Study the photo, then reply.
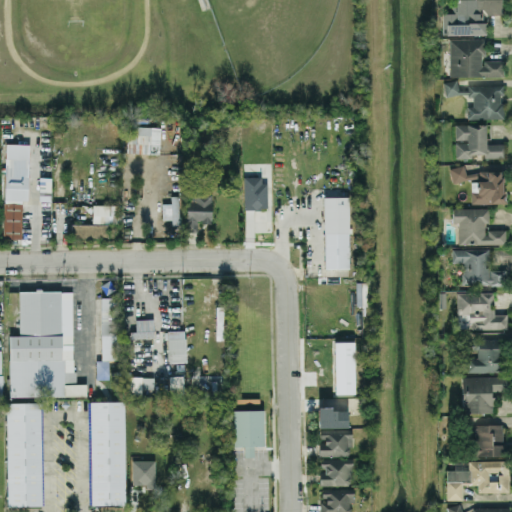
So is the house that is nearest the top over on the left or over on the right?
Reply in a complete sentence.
The house that is nearest the top sits on the right side.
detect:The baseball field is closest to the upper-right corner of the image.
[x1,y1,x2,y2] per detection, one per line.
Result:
[209,0,338,95]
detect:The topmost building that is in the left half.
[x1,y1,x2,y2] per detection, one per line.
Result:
[128,128,161,155]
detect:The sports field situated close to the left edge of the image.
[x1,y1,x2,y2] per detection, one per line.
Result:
[11,0,144,81]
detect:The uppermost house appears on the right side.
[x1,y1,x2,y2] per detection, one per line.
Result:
[444,0,504,36]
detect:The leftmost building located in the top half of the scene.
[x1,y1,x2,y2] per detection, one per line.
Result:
[4,144,30,240]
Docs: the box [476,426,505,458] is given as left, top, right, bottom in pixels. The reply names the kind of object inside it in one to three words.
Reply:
house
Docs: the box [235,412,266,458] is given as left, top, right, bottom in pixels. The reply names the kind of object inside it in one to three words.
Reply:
building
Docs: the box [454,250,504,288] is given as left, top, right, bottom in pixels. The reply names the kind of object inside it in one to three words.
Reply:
house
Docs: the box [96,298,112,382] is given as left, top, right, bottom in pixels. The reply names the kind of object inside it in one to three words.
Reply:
shed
